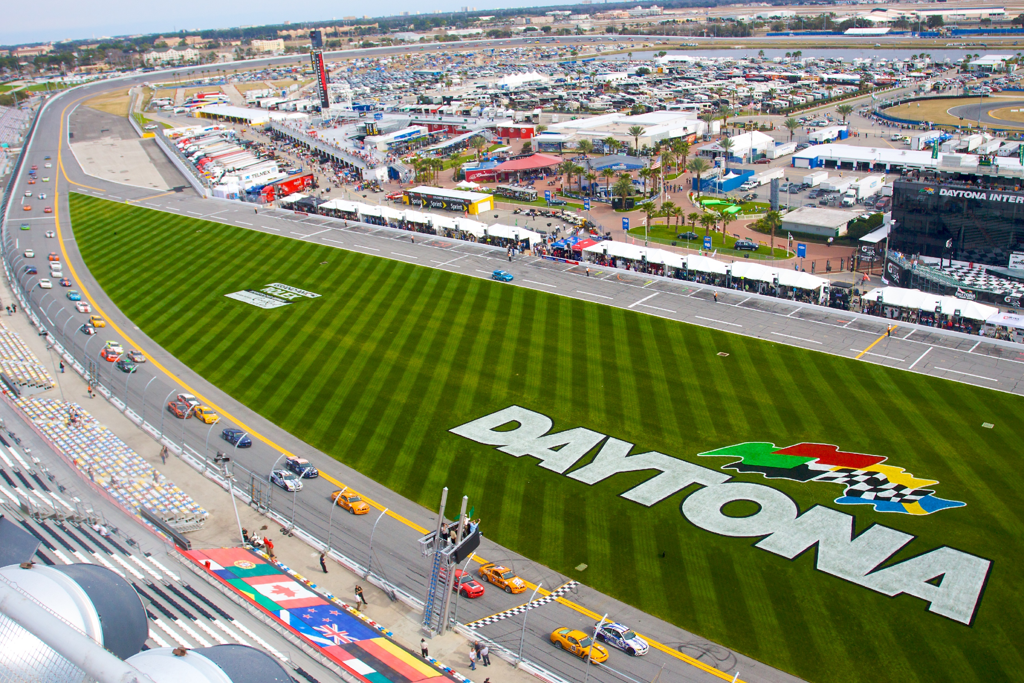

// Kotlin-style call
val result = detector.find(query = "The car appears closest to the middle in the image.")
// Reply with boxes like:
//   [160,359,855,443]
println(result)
[491,267,513,279]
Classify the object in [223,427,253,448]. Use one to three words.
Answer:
car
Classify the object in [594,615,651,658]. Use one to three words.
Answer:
car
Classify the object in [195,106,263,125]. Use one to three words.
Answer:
building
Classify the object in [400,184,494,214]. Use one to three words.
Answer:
building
